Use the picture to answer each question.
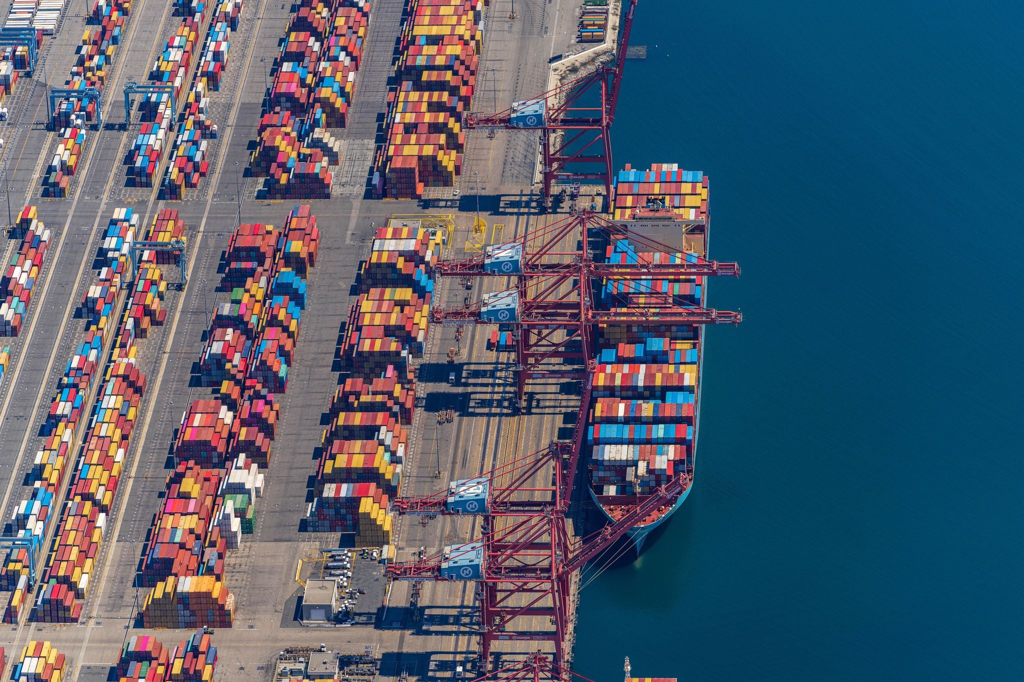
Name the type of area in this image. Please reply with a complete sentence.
The picture captures a port.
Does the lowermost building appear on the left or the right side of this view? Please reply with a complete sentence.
The lowermost building sits on the left side.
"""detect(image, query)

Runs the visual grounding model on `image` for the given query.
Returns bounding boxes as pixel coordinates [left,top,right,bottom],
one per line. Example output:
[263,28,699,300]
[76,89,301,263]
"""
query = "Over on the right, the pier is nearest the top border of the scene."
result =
[615,46,647,63]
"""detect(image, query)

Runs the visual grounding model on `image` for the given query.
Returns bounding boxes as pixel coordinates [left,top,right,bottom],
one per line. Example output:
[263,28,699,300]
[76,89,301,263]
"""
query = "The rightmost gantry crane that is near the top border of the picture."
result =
[462,0,635,215]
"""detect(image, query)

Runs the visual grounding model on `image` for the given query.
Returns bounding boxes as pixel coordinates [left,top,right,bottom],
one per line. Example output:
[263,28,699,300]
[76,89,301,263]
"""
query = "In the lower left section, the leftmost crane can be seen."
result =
[0,533,36,593]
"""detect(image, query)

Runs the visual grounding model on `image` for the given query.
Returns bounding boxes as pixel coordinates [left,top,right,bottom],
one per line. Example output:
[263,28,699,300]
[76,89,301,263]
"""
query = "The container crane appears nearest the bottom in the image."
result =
[466,648,619,682]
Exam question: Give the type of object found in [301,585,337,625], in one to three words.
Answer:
building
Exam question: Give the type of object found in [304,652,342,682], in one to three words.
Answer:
building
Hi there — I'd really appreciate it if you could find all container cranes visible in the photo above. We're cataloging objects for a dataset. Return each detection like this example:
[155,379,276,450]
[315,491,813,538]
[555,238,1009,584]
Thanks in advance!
[466,648,619,682]
[437,205,747,366]
[47,82,102,132]
[395,359,599,613]
[0,533,36,593]
[462,0,635,215]
[428,252,745,415]
[127,235,187,289]
[121,82,176,132]
[383,464,684,681]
